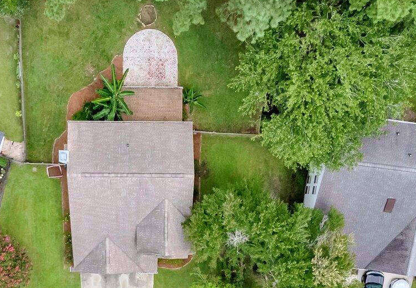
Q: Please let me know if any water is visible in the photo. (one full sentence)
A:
No, no water is visible.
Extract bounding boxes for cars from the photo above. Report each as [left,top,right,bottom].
[362,270,385,288]
[389,277,410,288]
